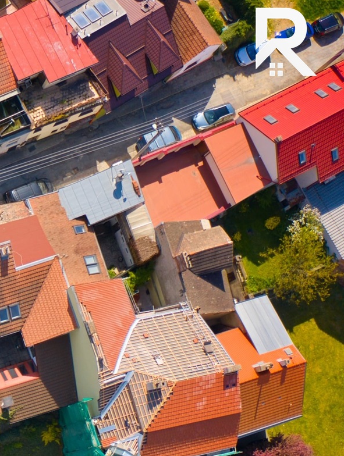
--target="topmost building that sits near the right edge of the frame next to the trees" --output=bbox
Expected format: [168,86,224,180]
[232,61,344,206]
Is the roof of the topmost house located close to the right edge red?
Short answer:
Yes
